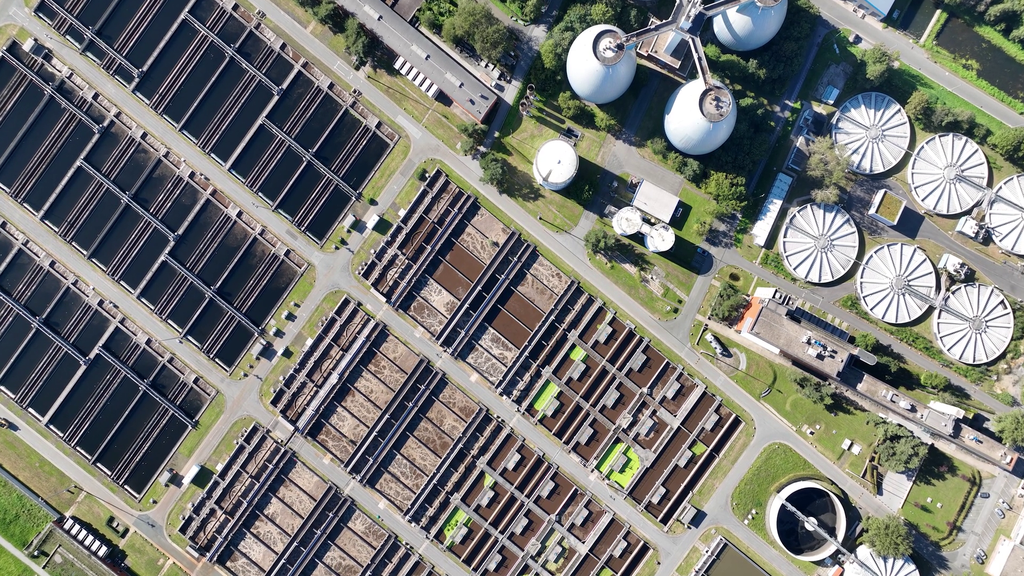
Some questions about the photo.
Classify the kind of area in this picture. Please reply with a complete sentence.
It's an industrial area.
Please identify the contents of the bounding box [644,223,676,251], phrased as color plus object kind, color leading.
white storage tank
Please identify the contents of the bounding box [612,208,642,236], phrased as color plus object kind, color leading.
white storage tank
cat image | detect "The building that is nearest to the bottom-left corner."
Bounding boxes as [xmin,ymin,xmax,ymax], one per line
[11,519,127,576]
